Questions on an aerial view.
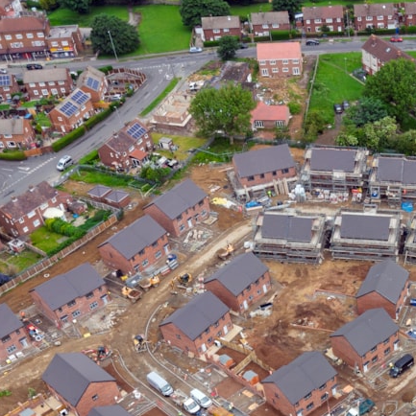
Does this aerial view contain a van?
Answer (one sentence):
Yes, the image includes a van.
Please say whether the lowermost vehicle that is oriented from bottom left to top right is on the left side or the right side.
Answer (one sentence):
The lowermost vehicle that is oriented from bottom left to top right appears in the right half of the scene.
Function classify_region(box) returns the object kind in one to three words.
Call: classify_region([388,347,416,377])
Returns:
van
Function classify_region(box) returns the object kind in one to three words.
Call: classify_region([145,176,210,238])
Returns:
house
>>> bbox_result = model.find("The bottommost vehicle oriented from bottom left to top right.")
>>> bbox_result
[346,396,375,416]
